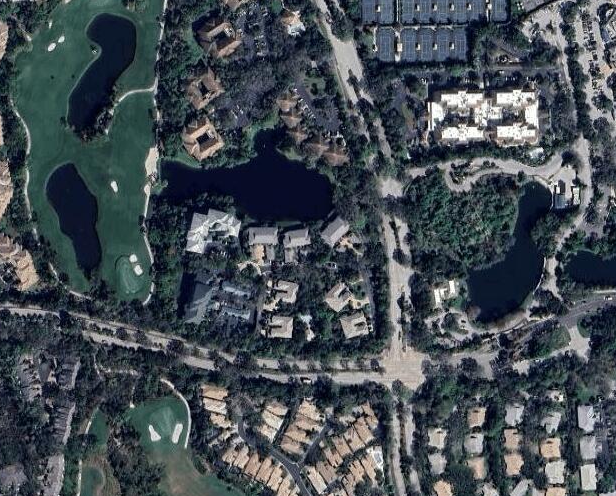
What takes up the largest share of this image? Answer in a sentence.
Most of the picture is covered by trees.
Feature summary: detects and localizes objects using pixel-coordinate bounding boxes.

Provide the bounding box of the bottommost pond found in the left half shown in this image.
[46,163,101,275]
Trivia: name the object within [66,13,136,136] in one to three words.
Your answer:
pond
